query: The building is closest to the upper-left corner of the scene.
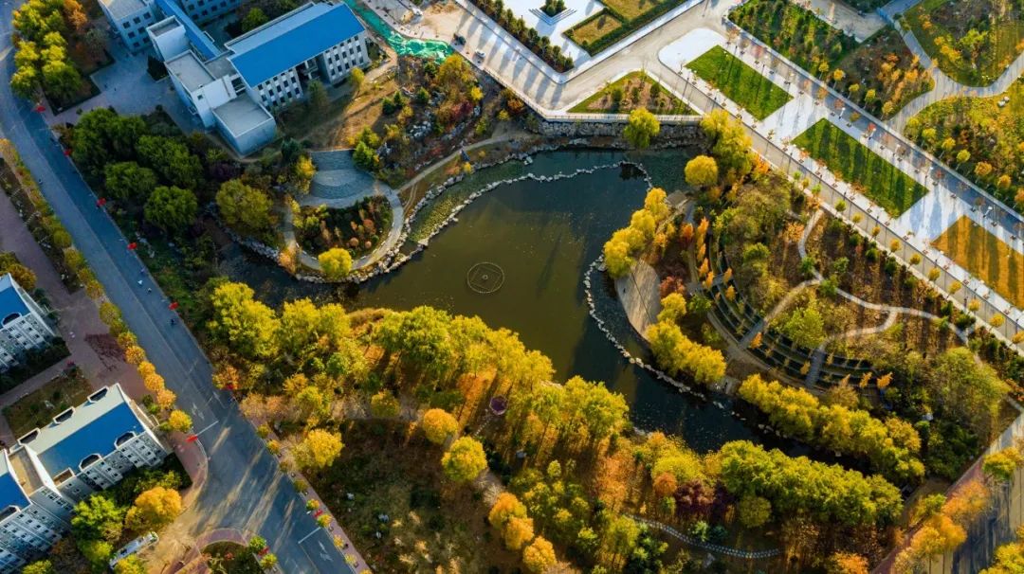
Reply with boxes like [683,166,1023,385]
[82,0,156,49]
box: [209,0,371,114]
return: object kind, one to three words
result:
building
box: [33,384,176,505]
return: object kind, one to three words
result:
building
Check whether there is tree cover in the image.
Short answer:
Yes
